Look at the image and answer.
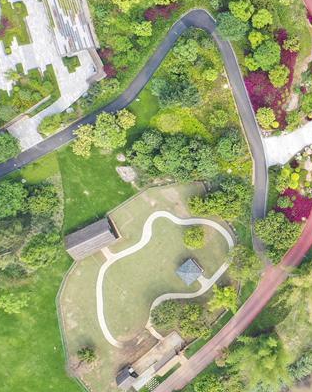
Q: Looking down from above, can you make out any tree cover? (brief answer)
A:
Yes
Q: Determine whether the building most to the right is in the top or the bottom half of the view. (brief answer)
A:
bottom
